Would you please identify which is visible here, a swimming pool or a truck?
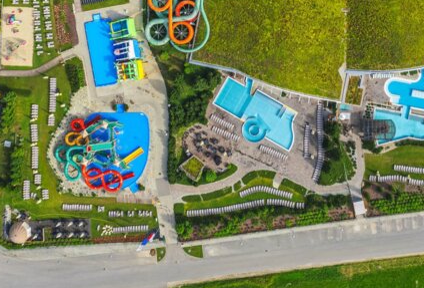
swimming pool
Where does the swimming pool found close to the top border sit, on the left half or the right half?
left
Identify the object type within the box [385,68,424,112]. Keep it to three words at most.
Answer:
swimming pool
